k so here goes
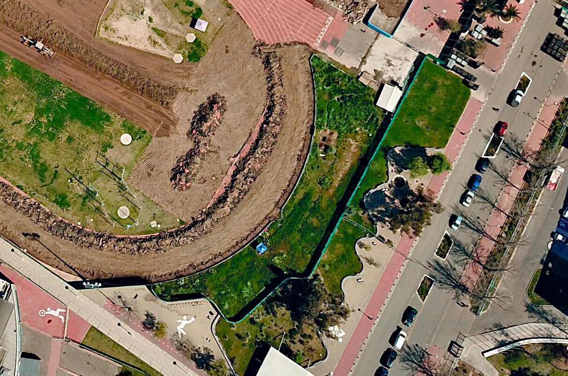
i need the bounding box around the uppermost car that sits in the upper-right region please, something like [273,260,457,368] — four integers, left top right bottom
[511,89,526,108]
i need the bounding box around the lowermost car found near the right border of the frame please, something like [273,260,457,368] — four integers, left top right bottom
[552,232,568,247]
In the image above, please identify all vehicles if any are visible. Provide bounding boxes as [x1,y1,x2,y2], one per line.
[402,307,417,326]
[394,329,407,351]
[468,174,481,190]
[498,121,507,137]
[462,190,474,208]
[477,156,490,174]
[382,349,397,368]
[450,215,463,231]
[22,37,57,61]
[563,210,568,219]
[511,89,526,108]
[552,232,568,247]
